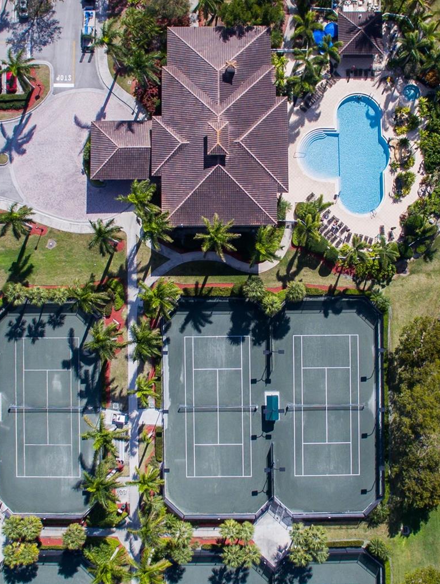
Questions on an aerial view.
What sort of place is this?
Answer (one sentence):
The area seen from above is a sports ground.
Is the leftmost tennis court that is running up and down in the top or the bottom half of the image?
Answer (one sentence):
It is in the bottom half that the leftmost tennis court that is running up and down appears.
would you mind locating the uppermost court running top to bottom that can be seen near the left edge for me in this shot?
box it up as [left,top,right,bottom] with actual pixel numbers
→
[0,302,99,514]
